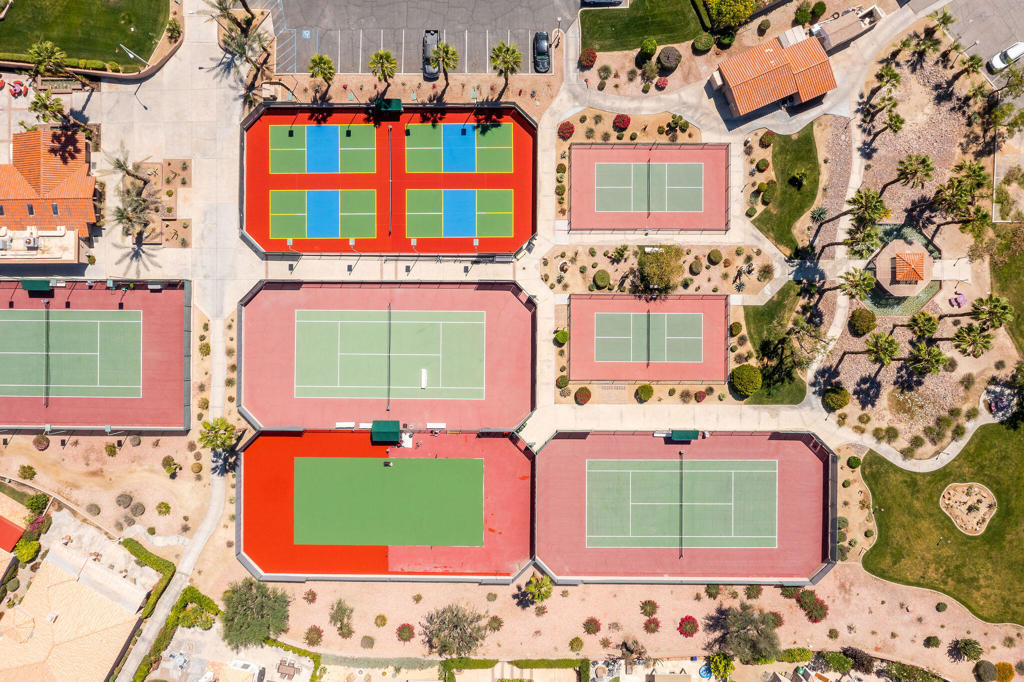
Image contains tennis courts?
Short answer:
Yes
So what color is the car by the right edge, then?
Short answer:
white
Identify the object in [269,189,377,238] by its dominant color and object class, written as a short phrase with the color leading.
green sports court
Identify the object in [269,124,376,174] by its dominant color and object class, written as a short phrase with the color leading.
green sports court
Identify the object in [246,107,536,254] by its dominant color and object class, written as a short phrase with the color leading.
red sports court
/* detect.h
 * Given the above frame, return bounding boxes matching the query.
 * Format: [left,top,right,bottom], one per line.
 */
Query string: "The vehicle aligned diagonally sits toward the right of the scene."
[989,42,1024,74]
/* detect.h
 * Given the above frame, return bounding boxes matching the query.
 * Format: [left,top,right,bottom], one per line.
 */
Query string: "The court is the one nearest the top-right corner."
[572,145,728,228]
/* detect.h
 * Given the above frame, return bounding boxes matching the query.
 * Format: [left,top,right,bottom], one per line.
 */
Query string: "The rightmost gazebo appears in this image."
[877,239,935,296]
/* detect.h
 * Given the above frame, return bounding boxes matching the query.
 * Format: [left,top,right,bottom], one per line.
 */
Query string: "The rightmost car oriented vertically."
[533,31,551,72]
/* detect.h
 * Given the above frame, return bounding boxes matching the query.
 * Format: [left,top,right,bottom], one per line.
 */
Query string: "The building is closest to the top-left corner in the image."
[0,127,101,265]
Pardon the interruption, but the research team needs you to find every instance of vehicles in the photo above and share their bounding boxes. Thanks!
[989,42,1024,74]
[583,0,623,6]
[533,31,551,72]
[421,29,439,79]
